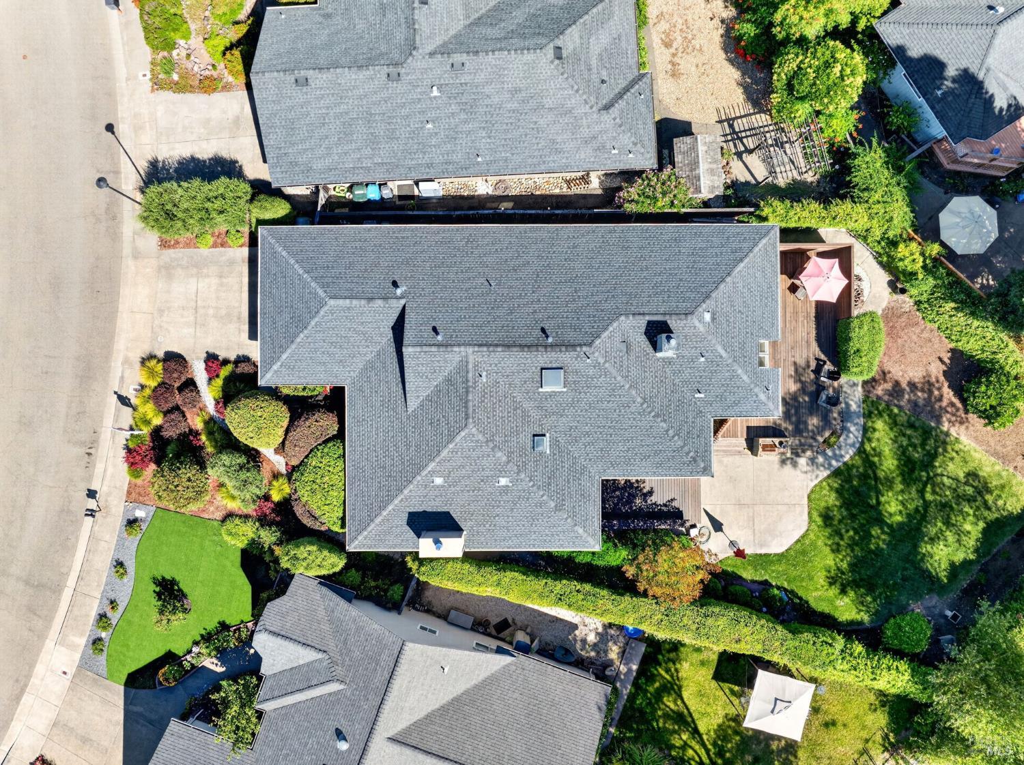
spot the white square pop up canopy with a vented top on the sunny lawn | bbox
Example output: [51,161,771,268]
[728,660,814,741]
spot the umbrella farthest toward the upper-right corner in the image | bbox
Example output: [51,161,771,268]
[934,196,998,254]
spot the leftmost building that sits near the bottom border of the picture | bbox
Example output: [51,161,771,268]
[148,571,610,765]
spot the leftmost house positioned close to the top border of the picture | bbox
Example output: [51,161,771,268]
[251,0,660,191]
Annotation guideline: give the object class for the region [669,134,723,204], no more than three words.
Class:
shed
